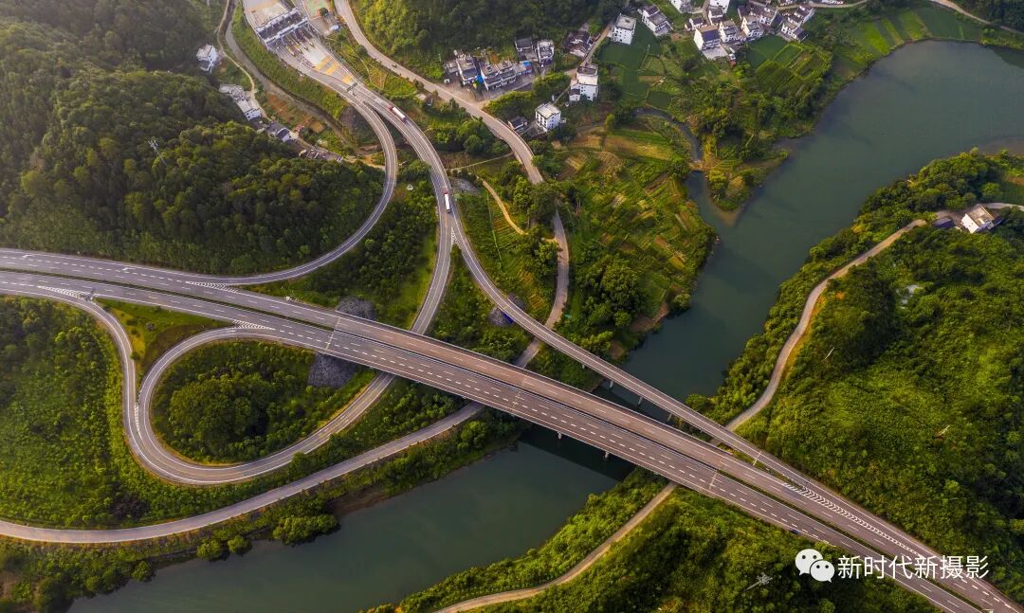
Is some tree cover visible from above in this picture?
Yes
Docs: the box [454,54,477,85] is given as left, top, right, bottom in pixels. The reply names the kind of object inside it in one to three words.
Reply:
house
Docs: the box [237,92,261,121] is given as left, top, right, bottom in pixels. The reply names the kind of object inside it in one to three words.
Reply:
house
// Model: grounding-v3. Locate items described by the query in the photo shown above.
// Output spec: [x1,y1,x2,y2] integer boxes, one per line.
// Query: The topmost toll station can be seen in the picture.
[256,8,314,54]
